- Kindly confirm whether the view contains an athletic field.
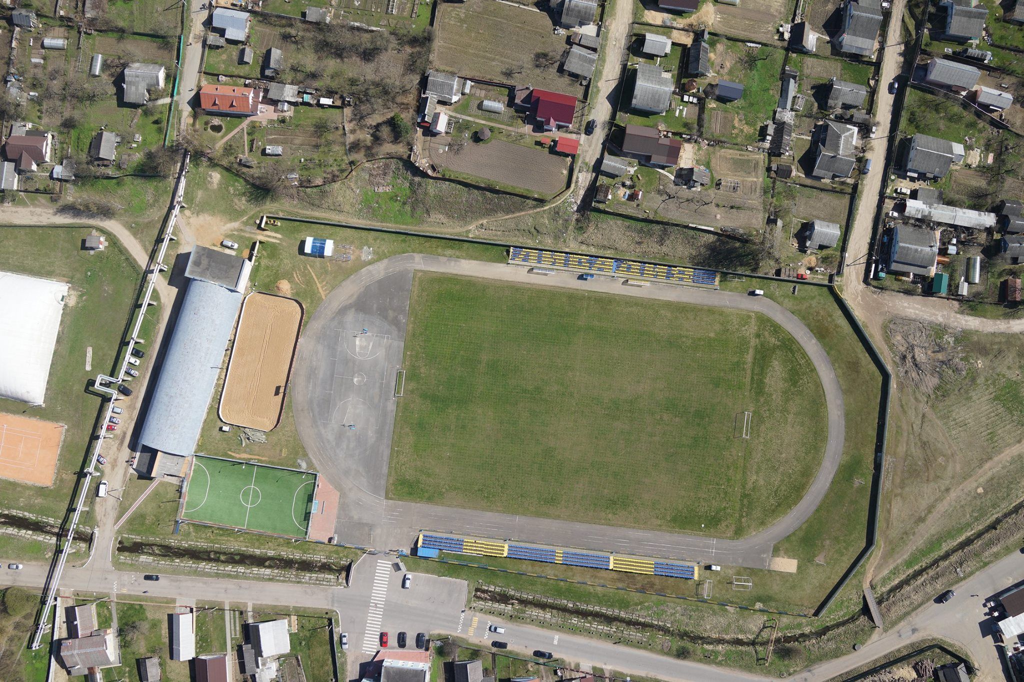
Yes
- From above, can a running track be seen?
Yes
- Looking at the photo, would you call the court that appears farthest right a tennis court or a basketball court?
basketball court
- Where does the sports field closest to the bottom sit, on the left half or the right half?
left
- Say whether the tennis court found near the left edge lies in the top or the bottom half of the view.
bottom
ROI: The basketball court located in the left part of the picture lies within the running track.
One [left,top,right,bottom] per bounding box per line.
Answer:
[317,271,414,498]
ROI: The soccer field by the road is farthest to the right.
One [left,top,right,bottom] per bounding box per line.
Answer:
[385,271,827,539]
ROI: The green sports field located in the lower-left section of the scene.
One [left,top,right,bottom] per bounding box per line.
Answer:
[176,456,318,540]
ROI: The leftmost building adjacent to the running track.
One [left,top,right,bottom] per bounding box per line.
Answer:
[132,244,258,478]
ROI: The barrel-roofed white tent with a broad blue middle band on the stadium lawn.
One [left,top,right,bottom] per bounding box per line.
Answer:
[304,237,336,257]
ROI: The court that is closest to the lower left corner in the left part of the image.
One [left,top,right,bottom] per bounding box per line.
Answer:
[0,412,68,489]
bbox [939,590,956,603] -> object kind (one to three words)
vehicle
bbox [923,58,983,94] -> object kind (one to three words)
house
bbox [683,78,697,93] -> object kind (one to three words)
gazebo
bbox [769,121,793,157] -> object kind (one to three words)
shed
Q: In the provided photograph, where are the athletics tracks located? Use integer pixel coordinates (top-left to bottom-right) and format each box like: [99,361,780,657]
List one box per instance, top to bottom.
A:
[292,254,845,569]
